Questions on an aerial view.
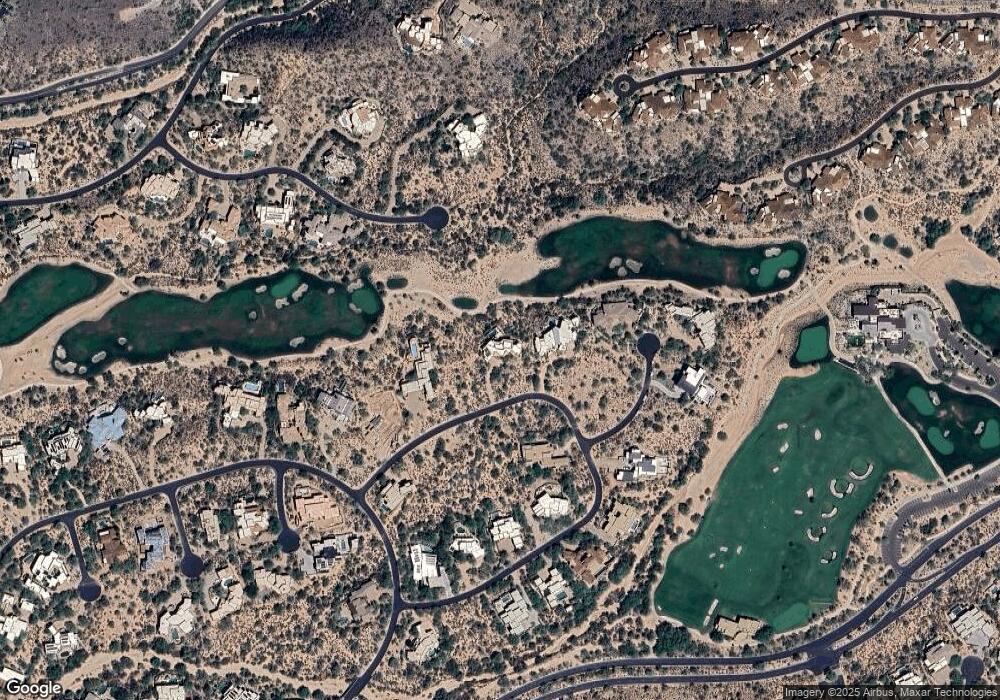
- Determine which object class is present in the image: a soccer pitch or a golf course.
golf course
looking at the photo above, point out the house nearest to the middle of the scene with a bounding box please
[479,326,524,363]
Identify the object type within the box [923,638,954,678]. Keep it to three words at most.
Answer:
house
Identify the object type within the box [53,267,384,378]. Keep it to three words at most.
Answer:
golf course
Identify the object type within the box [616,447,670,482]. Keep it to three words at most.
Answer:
house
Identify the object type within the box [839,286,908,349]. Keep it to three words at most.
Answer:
building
